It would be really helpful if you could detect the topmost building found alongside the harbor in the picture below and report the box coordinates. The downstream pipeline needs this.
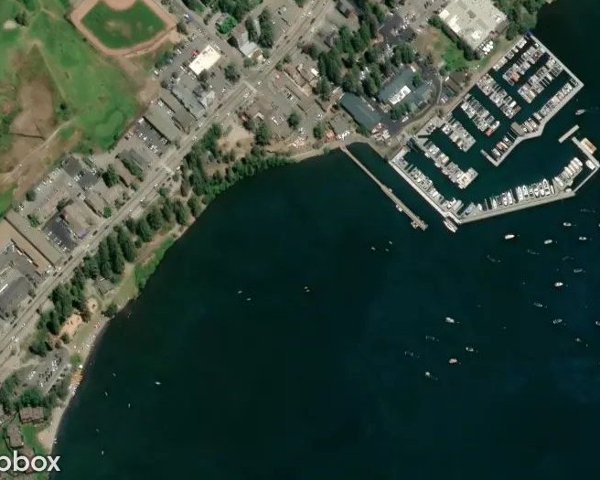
[439,0,510,52]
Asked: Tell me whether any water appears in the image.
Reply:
Yes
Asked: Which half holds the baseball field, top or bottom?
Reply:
top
